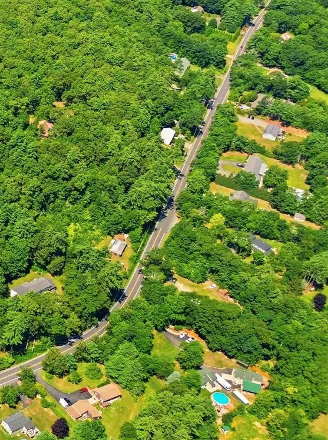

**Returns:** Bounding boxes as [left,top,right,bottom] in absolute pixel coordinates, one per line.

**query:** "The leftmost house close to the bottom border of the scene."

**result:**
[1,411,33,437]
